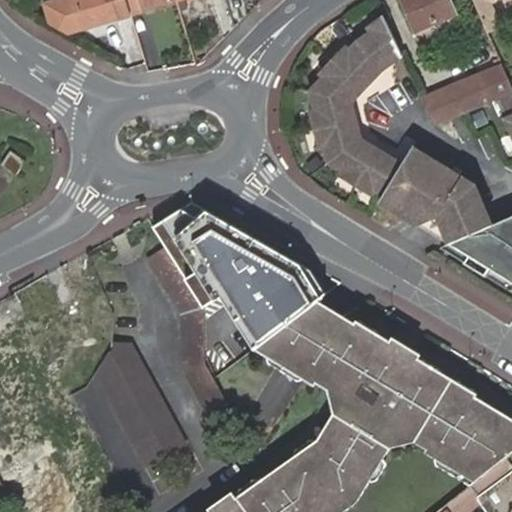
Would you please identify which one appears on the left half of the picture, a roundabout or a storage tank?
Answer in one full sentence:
You can see a roundabout on the left half of the picture.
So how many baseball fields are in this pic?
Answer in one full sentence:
The photo contains no baseball fields.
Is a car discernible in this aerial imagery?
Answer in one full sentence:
Yes, the frame does contain a car.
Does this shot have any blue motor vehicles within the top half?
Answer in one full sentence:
No, I can find no blue motor vehicle within the top half.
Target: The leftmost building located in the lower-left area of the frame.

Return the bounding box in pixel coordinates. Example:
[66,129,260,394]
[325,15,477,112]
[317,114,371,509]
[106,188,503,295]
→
[72,341,187,472]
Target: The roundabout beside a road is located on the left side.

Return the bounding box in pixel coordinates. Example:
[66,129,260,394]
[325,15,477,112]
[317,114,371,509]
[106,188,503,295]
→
[68,70,272,206]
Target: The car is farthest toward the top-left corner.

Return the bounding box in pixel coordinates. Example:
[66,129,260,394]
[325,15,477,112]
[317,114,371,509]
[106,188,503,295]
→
[106,26,122,48]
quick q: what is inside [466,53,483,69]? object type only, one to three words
car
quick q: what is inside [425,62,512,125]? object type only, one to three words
house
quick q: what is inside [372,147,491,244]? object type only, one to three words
building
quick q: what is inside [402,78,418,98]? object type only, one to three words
car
